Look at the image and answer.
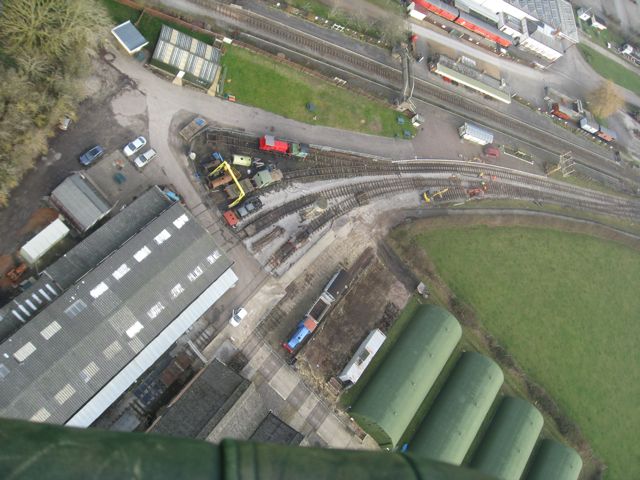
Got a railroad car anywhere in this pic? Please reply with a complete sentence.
Yes, the image includes a railroad car.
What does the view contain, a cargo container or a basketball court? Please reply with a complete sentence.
There is a cargo container in the scene.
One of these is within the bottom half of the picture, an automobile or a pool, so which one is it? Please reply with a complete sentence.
The one visible within the bottom half of the picture is an automobile.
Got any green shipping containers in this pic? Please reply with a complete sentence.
No, the picture doesn't show any green shipping container.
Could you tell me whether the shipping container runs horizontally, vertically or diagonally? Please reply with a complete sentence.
In this picture, the shipping container lies diagonally.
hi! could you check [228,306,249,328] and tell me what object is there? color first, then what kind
white car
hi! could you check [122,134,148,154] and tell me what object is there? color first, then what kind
white car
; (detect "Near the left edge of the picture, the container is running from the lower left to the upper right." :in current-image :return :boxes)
[21,219,71,263]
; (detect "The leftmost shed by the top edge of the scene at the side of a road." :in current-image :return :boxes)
[110,22,149,59]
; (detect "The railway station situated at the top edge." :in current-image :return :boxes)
[216,0,622,178]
